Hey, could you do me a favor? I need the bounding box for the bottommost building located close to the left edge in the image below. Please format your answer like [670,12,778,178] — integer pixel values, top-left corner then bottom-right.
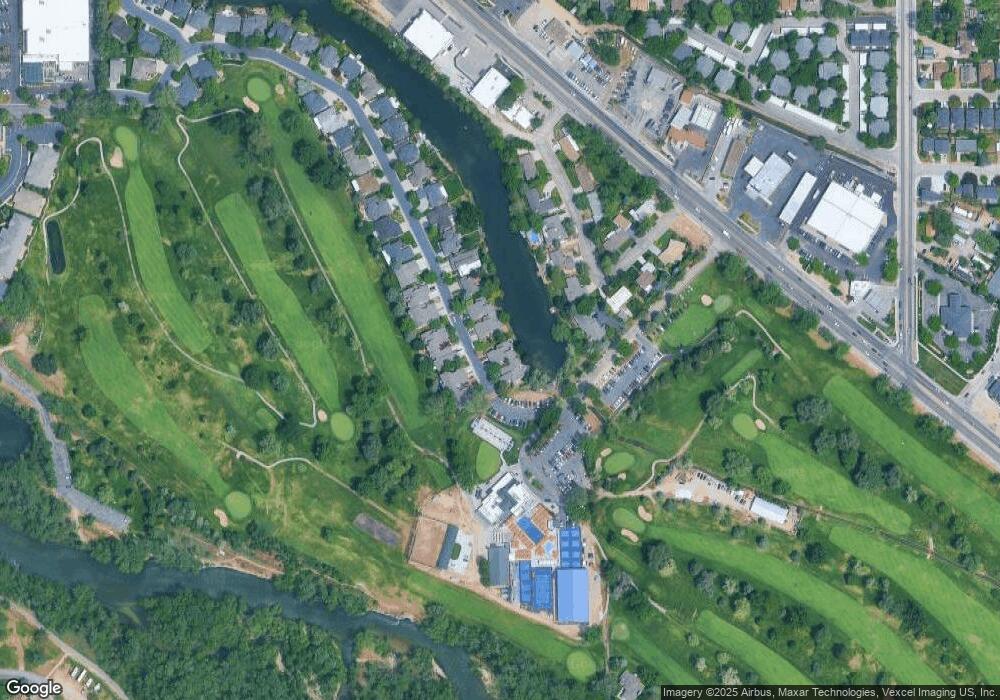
[0,214,33,285]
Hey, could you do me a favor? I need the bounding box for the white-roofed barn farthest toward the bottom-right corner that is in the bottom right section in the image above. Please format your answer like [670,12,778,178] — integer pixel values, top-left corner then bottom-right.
[751,497,789,524]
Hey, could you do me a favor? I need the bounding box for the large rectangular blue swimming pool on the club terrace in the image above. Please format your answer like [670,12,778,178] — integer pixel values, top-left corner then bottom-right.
[517,515,544,545]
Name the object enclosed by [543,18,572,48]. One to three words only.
building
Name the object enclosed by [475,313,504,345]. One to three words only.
house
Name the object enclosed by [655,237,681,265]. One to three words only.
house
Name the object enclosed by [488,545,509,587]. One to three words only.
building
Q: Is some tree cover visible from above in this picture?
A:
Yes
